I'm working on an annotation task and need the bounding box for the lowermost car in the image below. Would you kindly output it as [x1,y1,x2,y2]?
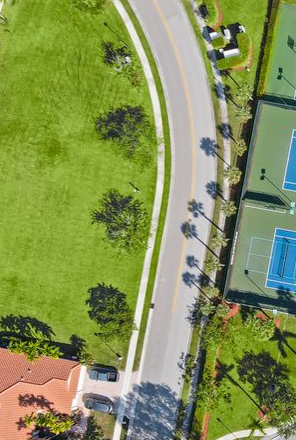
[82,398,111,413]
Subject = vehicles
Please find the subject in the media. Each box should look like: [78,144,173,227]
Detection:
[86,369,118,382]
[82,398,111,413]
